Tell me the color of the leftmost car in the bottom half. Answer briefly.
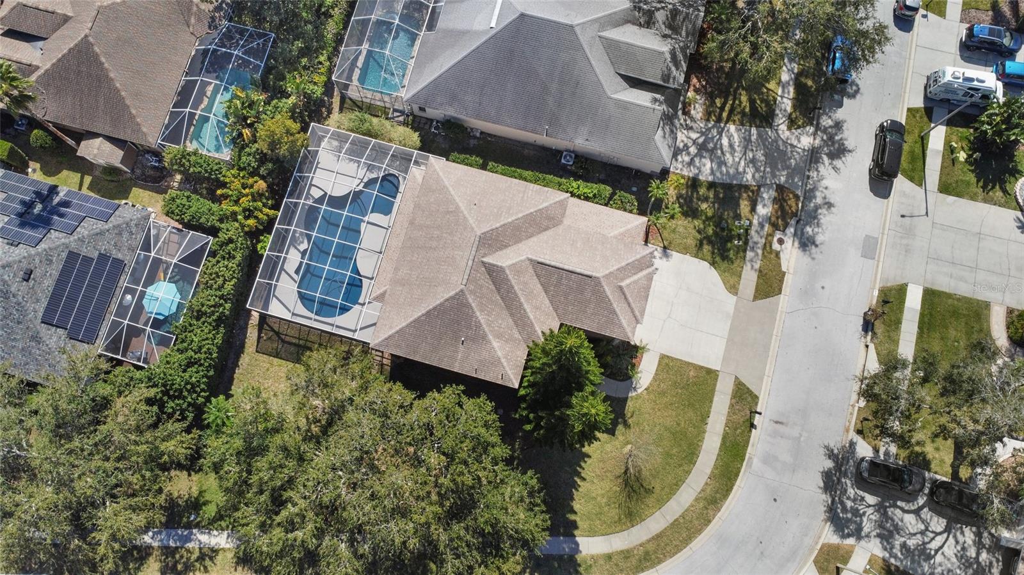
black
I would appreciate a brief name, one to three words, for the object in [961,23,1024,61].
car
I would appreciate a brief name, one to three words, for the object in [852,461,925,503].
car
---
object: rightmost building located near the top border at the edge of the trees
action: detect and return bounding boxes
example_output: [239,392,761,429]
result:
[404,0,704,173]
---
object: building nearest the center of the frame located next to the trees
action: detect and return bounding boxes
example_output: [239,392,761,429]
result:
[366,156,659,389]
